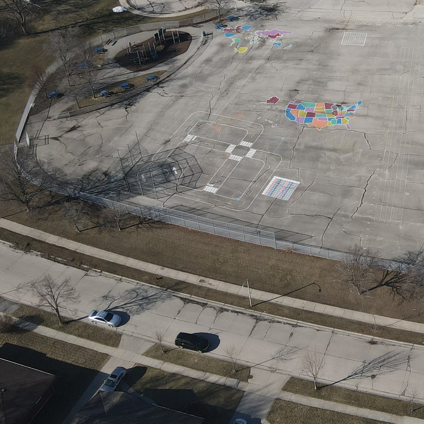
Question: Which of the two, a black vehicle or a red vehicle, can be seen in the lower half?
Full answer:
Visible in the lower half is a black vehicle.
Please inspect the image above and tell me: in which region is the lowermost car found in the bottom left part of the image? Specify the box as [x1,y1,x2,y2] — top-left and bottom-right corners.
[98,361,131,395]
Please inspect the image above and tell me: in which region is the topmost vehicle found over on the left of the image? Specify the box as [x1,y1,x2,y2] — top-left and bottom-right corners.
[86,310,122,327]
